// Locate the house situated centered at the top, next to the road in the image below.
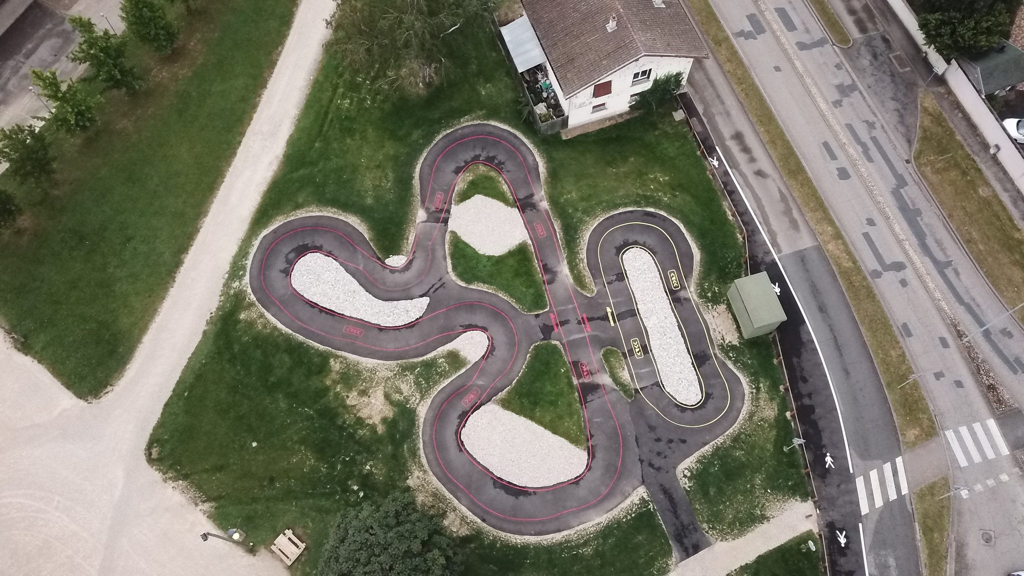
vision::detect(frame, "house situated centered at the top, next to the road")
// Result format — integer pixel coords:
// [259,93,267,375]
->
[510,0,711,127]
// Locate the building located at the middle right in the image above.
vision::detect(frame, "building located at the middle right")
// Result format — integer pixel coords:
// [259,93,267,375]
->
[727,271,788,339]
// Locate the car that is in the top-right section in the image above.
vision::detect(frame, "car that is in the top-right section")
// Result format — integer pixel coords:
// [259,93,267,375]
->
[1004,116,1024,143]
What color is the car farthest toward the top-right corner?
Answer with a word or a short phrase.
white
